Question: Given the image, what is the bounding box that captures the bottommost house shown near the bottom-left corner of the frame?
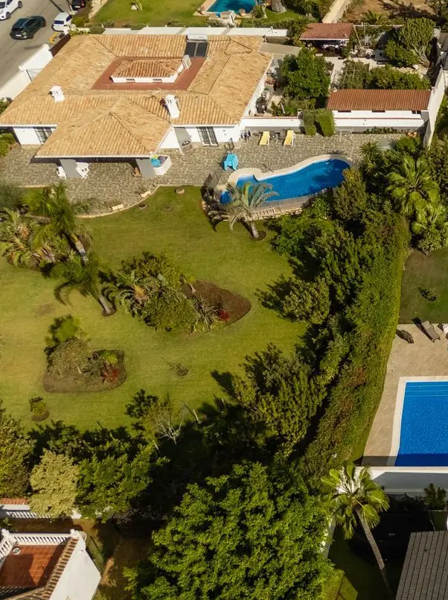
[0,530,98,600]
